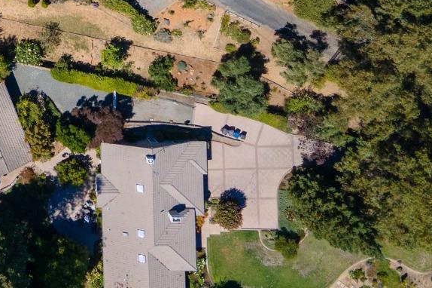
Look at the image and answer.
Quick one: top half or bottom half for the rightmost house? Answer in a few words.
bottom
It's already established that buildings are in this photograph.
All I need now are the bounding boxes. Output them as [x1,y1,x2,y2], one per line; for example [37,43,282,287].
[0,82,32,176]
[94,133,209,288]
